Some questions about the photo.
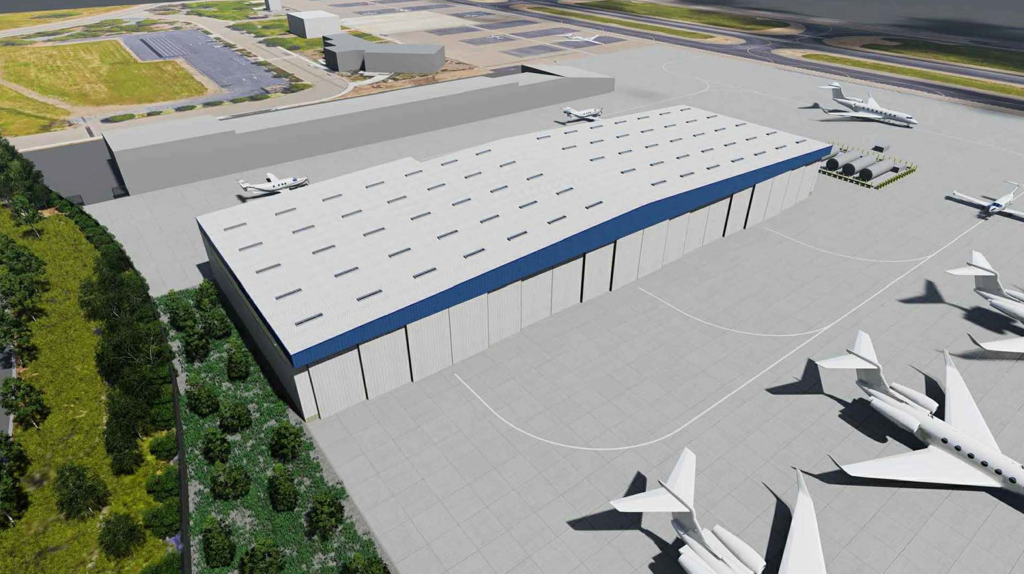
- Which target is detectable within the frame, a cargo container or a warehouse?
warehouse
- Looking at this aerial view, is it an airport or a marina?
airport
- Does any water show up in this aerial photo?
No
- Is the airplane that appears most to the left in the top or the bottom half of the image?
top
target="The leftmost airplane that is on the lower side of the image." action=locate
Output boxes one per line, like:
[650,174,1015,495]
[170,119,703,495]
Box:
[609,451,828,574]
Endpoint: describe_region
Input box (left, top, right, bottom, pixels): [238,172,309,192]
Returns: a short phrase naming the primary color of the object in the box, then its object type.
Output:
white airplane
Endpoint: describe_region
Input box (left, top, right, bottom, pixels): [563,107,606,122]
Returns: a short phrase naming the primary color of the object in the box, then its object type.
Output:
white airplane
